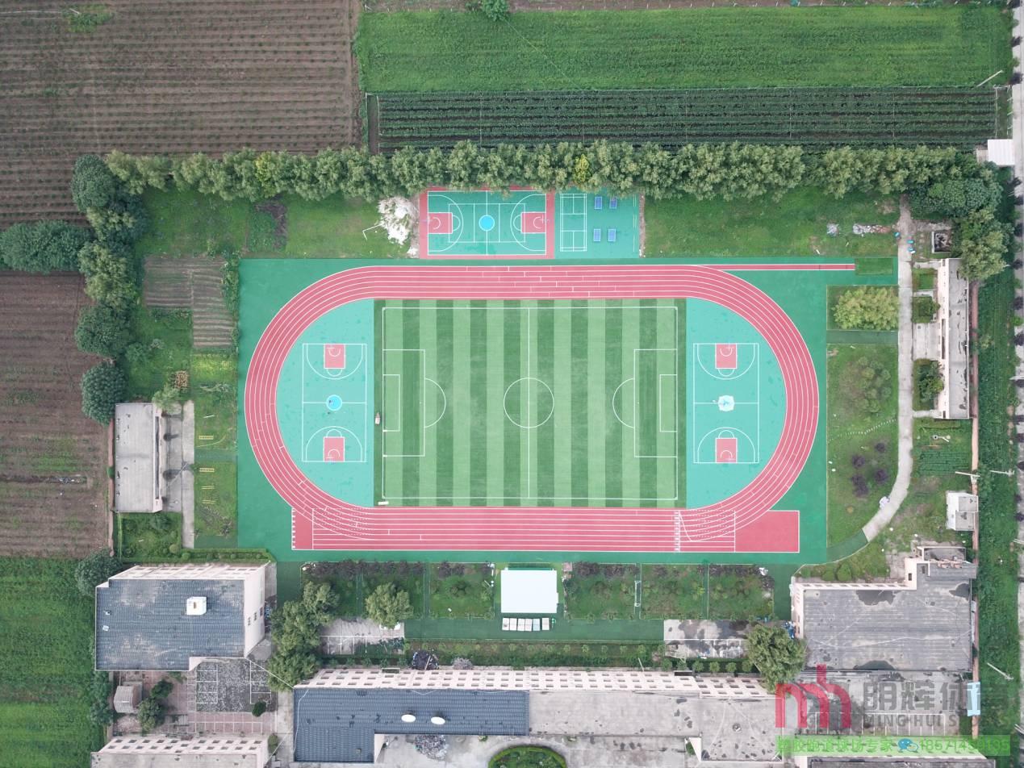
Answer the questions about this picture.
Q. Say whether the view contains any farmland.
Yes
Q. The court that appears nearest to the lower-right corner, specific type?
basketball court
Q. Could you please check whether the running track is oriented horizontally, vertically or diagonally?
horizontally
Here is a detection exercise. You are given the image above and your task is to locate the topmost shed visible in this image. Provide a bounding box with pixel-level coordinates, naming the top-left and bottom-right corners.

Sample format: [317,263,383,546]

[972,139,1015,170]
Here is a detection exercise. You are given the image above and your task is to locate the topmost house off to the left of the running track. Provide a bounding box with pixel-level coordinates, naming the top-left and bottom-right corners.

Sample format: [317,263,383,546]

[115,402,164,512]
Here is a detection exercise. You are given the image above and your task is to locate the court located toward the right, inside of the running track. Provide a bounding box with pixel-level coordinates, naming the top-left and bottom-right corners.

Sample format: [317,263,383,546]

[693,343,759,463]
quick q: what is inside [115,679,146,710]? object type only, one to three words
shed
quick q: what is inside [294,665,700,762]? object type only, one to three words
building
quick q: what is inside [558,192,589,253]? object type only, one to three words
sports court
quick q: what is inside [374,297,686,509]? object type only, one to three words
soccer field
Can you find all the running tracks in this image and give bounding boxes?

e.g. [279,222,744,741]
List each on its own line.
[245,263,855,553]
